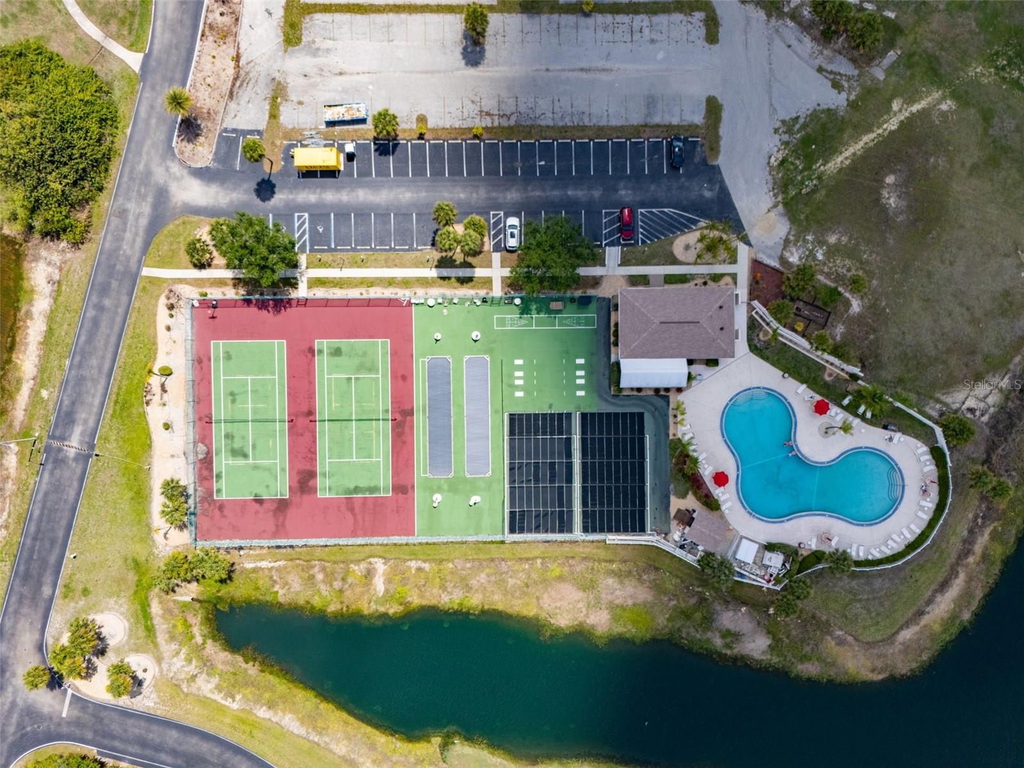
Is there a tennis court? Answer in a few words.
Yes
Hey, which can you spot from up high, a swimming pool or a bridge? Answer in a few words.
swimming pool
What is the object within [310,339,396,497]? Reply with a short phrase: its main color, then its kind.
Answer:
green tennis court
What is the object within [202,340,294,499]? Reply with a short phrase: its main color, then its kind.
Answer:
green tennis court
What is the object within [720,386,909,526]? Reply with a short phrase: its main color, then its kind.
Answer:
blue swimming pool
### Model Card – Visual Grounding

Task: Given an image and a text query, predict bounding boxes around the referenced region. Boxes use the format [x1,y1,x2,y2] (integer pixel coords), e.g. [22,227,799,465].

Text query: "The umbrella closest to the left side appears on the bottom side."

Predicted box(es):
[713,471,729,487]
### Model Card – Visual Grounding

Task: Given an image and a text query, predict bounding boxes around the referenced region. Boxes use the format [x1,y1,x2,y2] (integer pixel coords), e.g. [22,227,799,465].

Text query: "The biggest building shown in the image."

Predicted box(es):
[619,288,741,358]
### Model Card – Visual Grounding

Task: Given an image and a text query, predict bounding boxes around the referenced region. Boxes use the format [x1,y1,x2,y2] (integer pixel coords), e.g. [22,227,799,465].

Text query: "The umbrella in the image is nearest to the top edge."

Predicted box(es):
[813,399,830,415]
